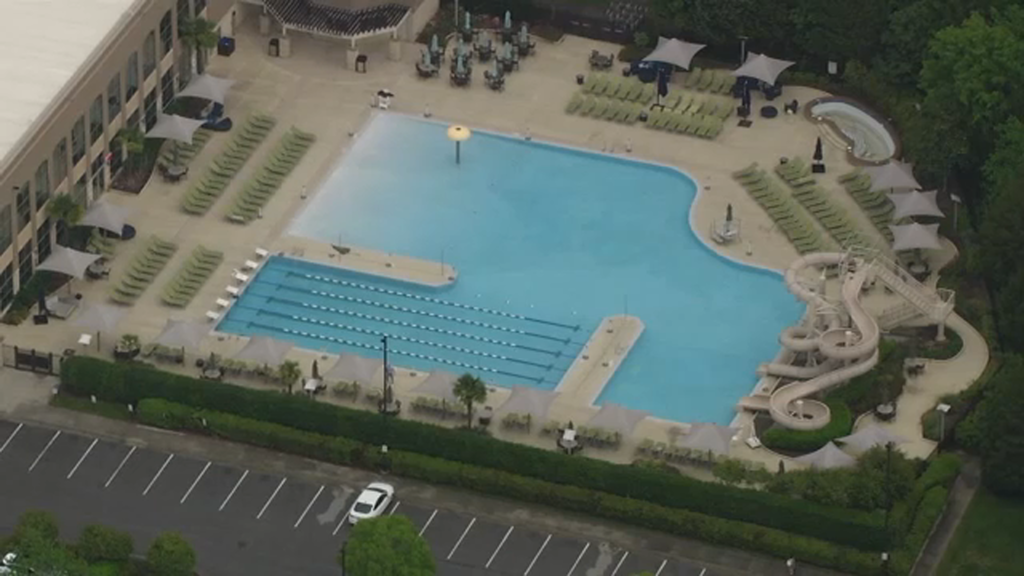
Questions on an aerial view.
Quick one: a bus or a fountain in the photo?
fountain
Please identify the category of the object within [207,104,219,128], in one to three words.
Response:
umbrella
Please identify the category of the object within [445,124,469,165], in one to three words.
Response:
fountain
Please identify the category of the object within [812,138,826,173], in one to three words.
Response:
umbrella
